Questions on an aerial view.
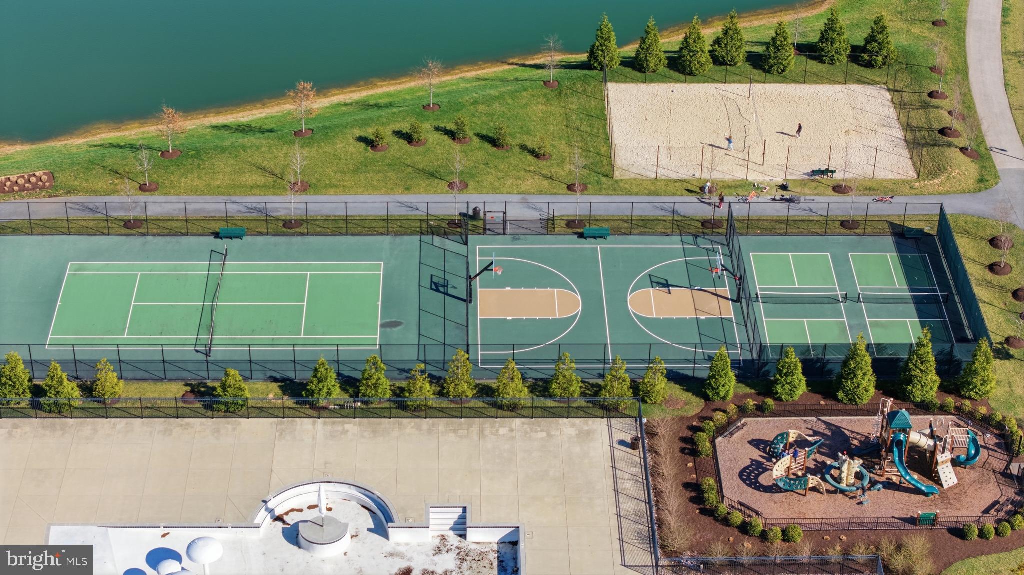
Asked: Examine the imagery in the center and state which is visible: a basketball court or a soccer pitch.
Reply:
basketball court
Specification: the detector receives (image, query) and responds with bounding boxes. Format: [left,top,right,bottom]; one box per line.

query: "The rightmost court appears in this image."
[848,253,956,342]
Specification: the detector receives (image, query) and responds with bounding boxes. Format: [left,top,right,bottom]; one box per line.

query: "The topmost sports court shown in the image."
[608,83,918,178]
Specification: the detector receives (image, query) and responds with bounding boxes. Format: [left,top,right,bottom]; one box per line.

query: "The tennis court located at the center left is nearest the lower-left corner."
[46,262,383,348]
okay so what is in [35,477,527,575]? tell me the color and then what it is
white swimming pool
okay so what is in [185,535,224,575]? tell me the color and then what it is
white fountain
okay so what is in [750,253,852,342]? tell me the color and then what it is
green sports court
